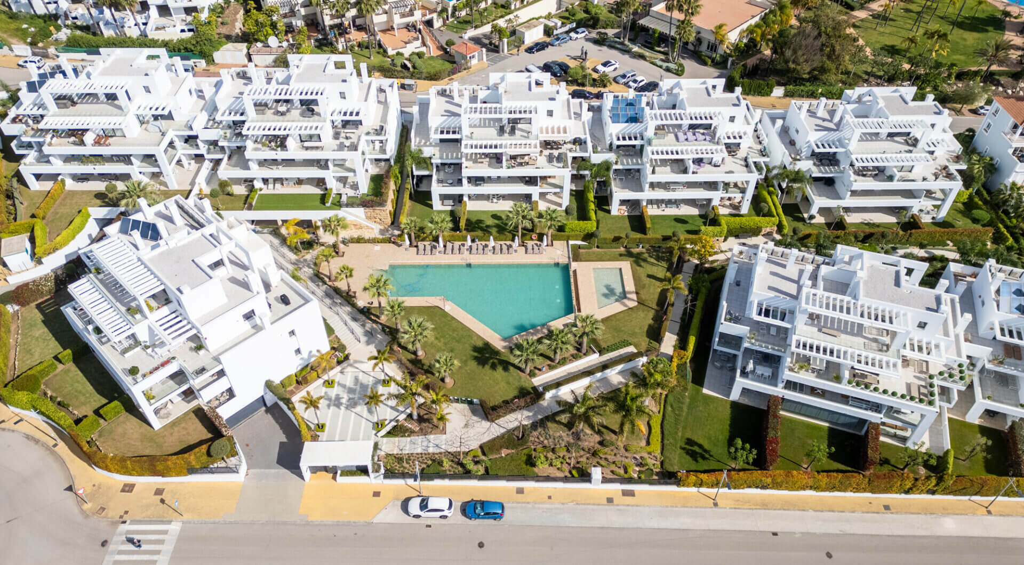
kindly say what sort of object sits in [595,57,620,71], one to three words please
car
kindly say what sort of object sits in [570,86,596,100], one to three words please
car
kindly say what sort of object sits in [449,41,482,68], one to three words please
building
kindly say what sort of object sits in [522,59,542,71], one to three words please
vehicle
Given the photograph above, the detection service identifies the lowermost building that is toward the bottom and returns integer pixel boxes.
[299,440,377,482]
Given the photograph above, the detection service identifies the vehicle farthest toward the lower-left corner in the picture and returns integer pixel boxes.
[407,495,454,521]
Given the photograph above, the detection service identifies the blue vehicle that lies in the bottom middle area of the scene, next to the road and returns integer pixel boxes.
[463,499,505,523]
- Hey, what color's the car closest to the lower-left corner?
white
